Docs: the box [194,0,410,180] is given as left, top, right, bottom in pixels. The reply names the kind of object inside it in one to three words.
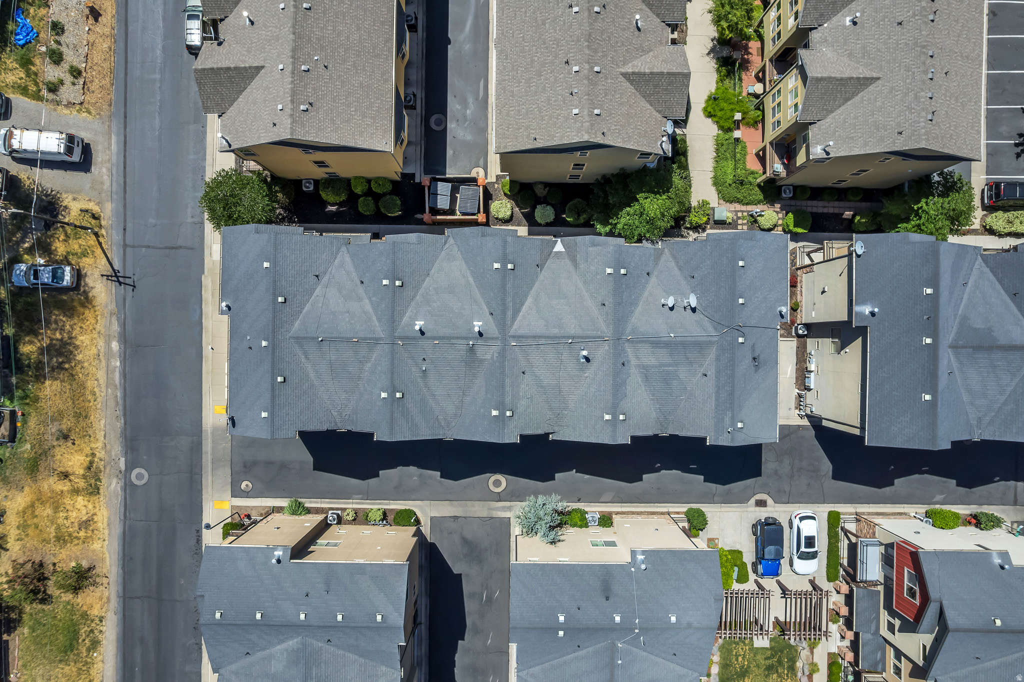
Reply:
house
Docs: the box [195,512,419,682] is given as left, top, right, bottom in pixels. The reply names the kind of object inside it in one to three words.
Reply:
house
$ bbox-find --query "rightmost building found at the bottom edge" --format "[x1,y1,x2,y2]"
[840,514,1024,682]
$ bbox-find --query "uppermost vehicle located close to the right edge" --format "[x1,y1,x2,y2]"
[983,180,1024,209]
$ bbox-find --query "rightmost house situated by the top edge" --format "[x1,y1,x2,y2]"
[750,0,984,188]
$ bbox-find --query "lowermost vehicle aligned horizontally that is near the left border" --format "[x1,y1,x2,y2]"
[15,258,80,289]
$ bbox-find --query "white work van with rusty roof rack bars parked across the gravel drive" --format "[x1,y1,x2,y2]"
[4,126,86,165]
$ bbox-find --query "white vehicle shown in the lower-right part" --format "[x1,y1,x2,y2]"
[789,512,823,576]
